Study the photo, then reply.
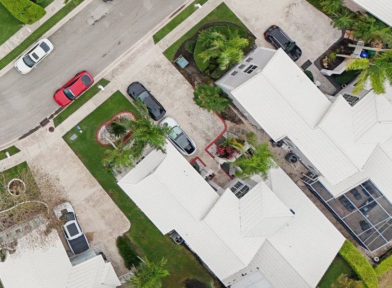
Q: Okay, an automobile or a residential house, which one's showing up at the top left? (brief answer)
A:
automobile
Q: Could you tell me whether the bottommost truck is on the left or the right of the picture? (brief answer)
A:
left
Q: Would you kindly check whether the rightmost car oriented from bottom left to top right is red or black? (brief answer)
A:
red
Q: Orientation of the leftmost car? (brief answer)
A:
at an angle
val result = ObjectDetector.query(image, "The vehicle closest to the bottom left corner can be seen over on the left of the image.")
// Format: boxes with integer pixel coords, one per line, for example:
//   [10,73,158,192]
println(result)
[56,201,90,257]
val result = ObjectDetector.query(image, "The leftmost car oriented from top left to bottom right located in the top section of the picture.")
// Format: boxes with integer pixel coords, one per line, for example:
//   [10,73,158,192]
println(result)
[127,80,167,121]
